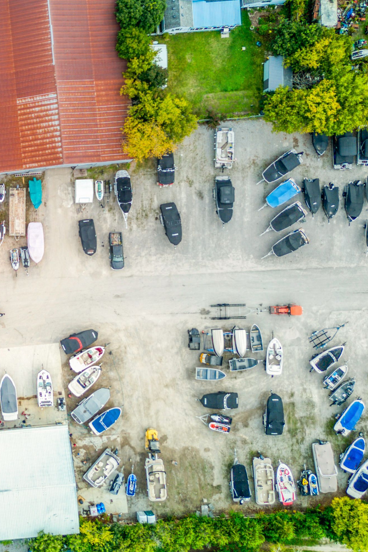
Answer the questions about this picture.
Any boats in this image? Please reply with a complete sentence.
Yes, there's a boat here.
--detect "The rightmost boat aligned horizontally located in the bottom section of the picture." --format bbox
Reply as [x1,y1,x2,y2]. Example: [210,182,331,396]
[225,357,259,371]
